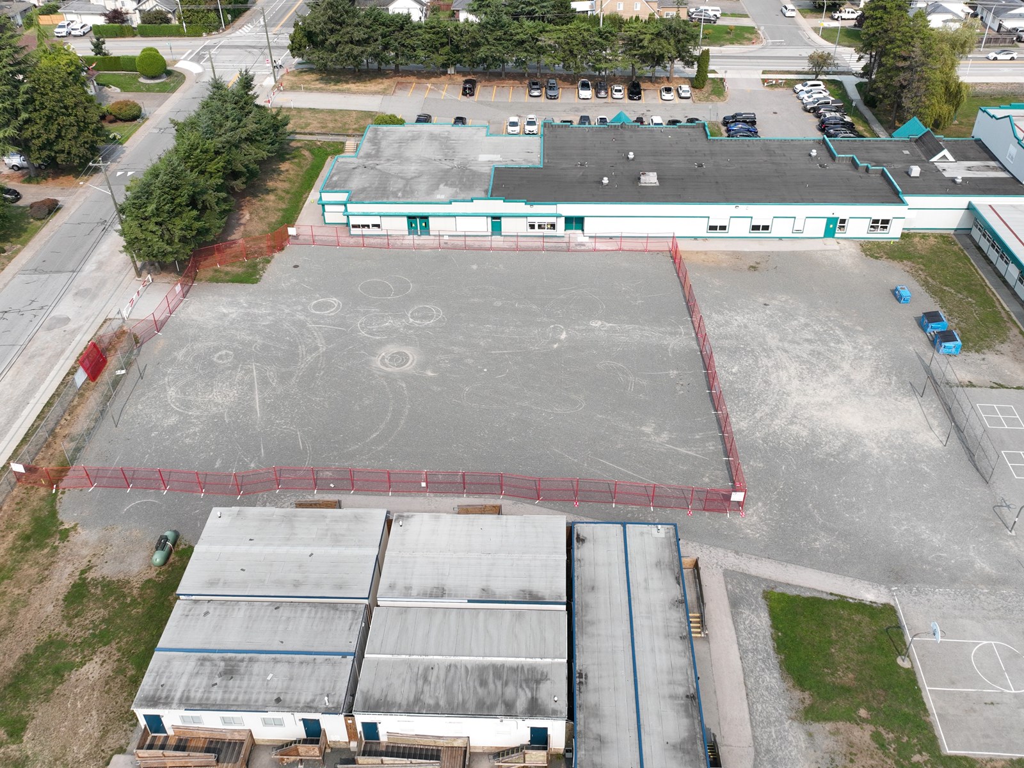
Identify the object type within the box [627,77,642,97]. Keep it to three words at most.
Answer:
vehicle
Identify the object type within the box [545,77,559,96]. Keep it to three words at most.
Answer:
car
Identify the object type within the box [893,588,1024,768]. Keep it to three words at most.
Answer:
sports court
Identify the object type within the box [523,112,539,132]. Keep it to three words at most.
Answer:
car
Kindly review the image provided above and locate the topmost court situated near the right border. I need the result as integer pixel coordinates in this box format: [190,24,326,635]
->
[958,387,1024,533]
